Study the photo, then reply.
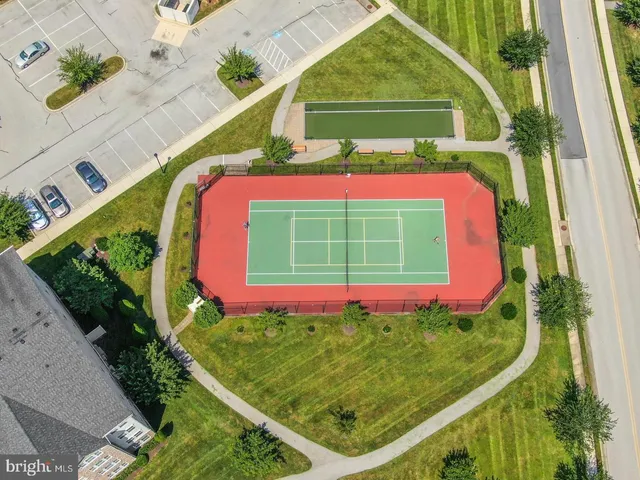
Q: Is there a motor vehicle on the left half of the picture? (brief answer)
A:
Yes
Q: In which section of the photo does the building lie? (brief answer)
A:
bottom left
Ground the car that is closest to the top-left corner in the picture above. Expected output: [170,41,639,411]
[14,37,51,66]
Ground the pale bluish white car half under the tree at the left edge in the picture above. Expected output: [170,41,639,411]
[16,194,49,230]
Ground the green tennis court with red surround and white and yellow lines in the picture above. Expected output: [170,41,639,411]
[194,172,506,318]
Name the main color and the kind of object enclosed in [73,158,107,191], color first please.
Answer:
blue car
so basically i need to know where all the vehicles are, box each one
[73,158,107,191]
[14,37,51,66]
[16,194,49,230]
[36,183,69,218]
